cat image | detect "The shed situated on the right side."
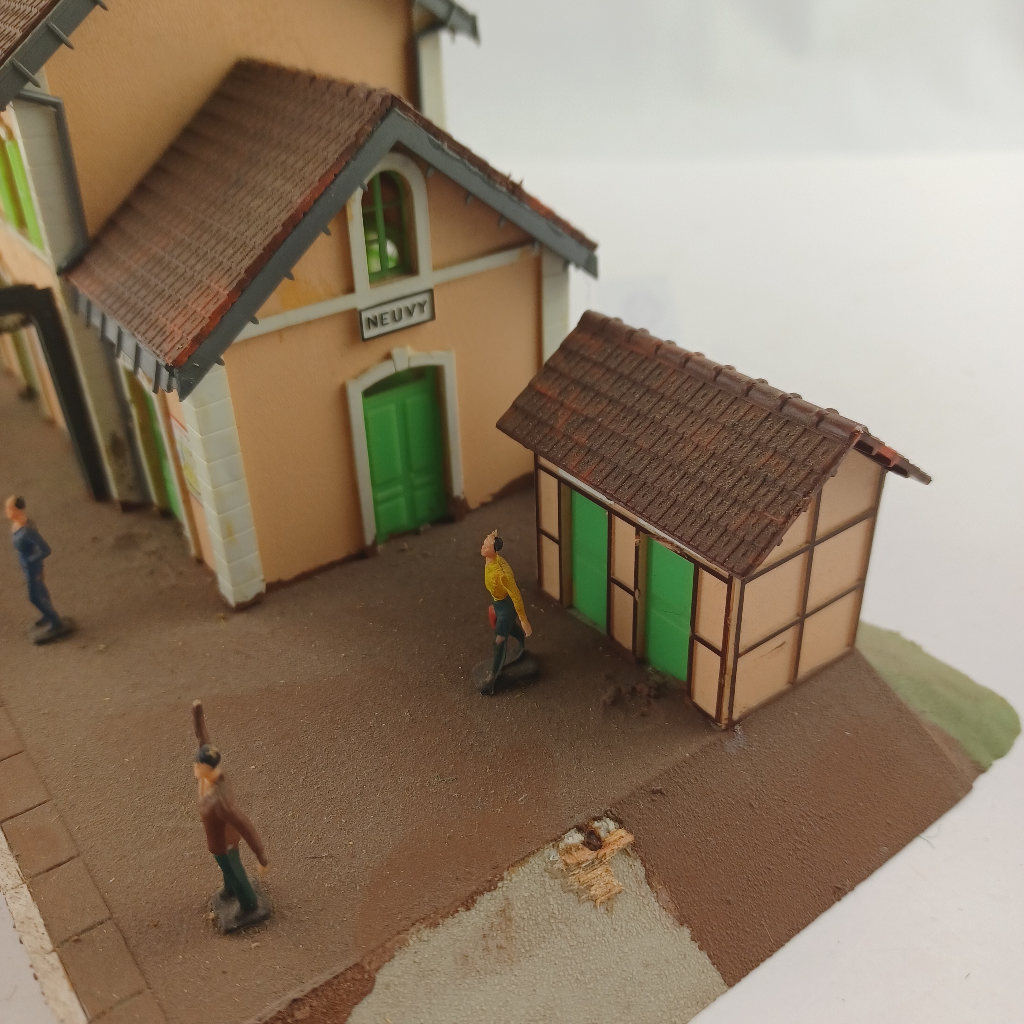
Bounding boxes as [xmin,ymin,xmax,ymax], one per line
[494,305,931,728]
